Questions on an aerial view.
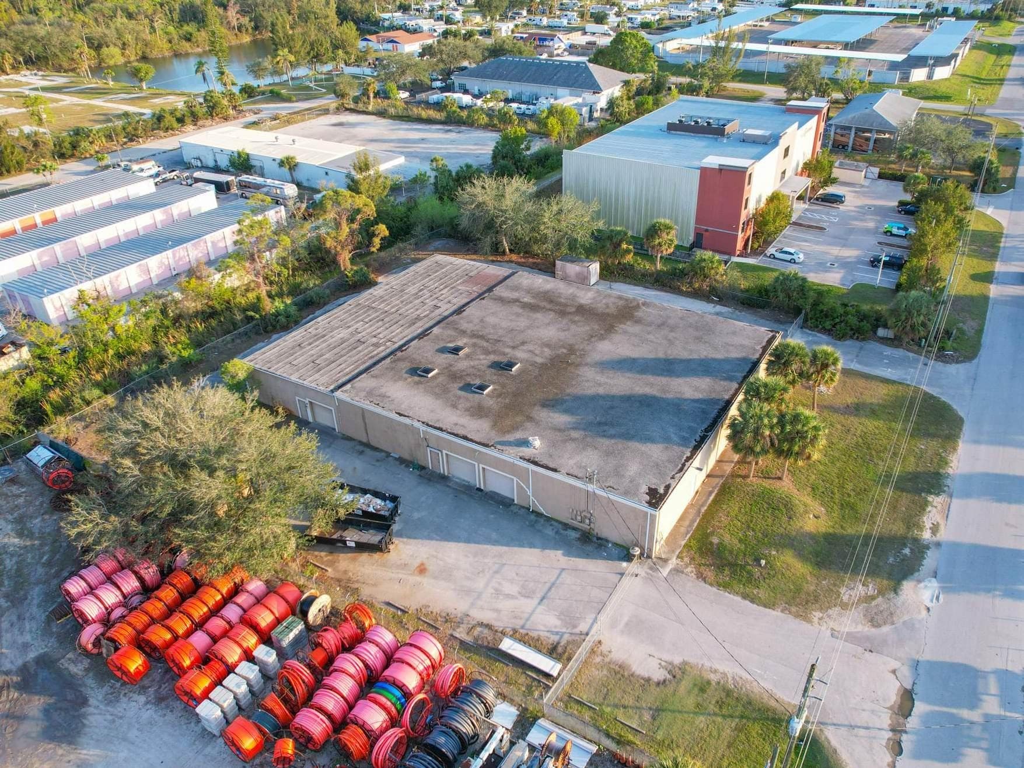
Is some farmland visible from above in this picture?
No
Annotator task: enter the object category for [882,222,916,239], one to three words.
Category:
car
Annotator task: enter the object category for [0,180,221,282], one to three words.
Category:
building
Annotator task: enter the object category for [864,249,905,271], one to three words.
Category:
car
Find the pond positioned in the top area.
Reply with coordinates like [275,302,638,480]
[90,39,374,92]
